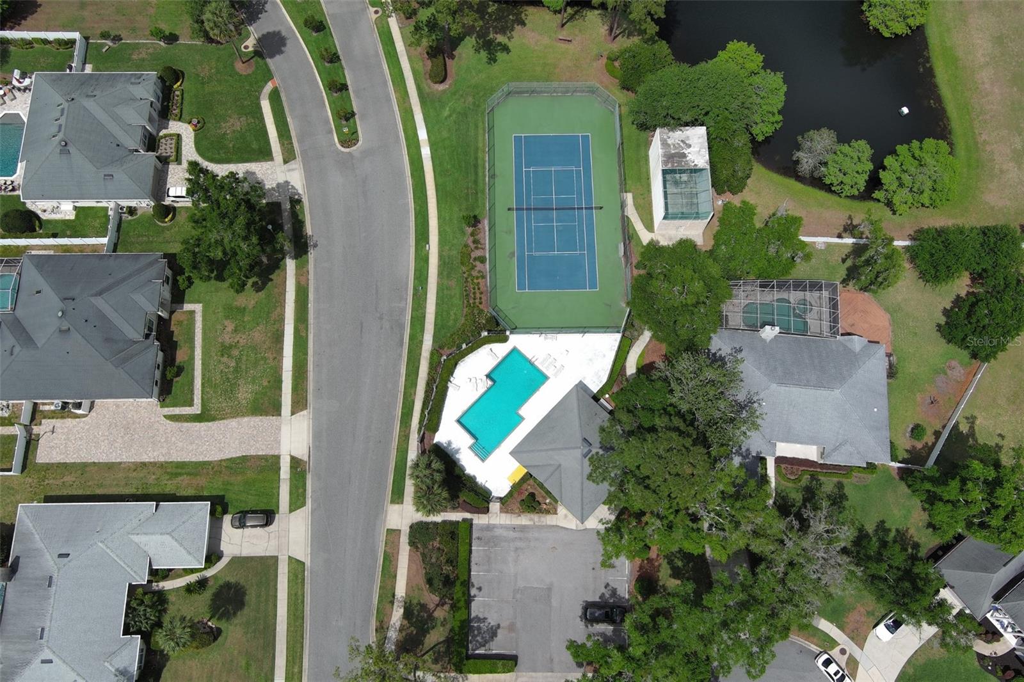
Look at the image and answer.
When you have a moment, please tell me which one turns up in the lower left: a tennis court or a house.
house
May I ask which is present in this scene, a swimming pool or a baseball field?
swimming pool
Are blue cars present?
No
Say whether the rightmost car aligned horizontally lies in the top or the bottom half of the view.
bottom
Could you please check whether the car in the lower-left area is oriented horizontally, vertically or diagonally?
horizontally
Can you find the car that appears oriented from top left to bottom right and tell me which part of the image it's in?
bottom right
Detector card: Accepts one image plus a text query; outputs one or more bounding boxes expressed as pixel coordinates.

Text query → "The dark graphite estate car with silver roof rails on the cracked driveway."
[231,510,274,530]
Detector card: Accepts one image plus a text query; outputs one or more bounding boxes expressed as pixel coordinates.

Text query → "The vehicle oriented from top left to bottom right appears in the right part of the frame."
[814,647,852,682]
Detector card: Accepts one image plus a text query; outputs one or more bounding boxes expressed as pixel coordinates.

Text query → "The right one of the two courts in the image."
[650,126,713,245]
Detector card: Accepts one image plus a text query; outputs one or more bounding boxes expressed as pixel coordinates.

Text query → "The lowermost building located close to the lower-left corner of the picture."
[0,501,216,682]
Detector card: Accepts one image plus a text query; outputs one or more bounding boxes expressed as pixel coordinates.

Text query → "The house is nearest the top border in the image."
[19,71,165,208]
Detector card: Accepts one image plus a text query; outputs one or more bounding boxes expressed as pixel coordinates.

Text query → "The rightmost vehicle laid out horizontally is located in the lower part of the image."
[584,604,628,626]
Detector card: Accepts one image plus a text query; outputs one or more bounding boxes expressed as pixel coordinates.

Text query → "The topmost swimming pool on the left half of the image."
[0,110,26,180]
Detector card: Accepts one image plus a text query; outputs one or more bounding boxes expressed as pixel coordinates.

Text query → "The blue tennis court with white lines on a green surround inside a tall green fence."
[489,95,624,331]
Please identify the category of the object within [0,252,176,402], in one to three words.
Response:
house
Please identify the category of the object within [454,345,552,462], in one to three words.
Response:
swimming pool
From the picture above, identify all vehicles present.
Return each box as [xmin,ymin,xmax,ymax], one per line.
[814,647,852,682]
[231,510,274,530]
[160,185,194,203]
[876,602,910,643]
[584,604,628,626]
